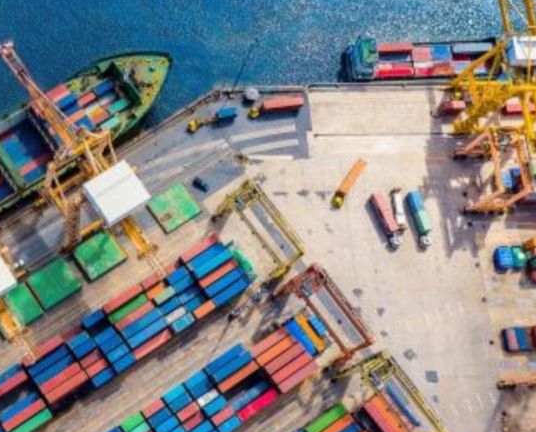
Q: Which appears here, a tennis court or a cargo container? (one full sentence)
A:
Visible in the photo is a cargo container.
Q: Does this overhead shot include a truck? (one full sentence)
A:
Yes, looking at the shot, I can spot a truck.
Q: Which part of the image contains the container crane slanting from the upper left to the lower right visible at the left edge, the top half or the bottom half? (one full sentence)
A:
You can find the container crane slanting from the upper left to the lower right visible at the left edge in the top half.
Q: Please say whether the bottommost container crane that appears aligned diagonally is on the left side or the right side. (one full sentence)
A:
You can find the bottommost container crane that appears aligned diagonally on the right side of the picture.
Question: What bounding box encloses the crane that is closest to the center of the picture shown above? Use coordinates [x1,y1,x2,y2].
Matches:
[204,179,312,288]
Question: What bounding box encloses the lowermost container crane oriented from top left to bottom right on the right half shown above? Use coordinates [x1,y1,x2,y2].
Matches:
[326,352,456,432]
